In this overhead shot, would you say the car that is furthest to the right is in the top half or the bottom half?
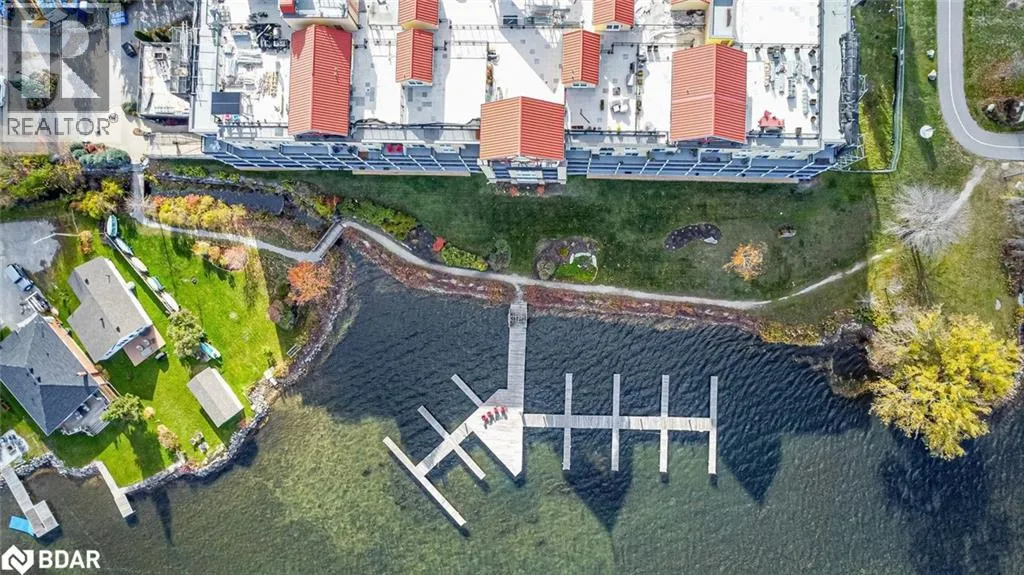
top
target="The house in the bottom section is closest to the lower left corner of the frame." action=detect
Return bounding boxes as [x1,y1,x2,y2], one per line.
[0,313,120,440]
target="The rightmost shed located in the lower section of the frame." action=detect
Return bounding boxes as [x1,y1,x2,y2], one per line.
[188,367,246,428]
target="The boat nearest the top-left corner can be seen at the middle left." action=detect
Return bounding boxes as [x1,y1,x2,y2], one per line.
[104,215,116,239]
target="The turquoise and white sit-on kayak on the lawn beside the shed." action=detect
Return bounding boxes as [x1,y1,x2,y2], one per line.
[199,342,218,360]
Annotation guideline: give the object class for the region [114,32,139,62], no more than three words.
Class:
car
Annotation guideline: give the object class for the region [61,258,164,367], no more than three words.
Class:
house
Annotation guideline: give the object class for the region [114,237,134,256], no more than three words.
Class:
boat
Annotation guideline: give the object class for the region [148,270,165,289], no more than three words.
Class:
boat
